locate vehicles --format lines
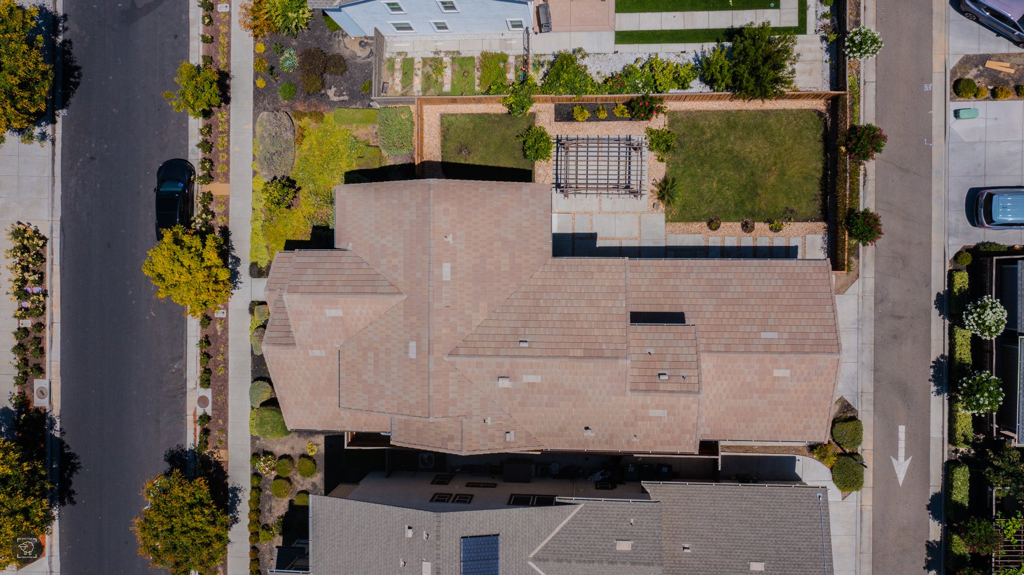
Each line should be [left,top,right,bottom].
[153,158,200,246]
[972,187,1024,228]
[955,0,1024,54]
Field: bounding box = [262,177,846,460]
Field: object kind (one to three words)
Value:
house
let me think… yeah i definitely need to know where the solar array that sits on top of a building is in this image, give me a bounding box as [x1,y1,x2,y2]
[463,530,500,575]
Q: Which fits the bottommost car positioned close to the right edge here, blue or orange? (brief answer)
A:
blue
